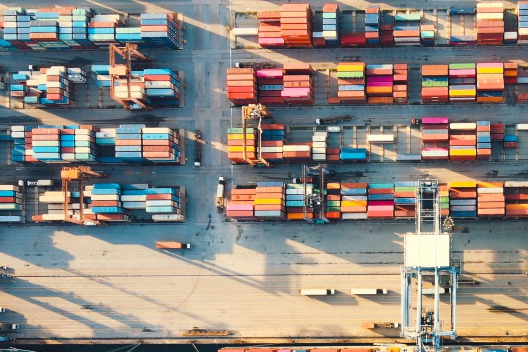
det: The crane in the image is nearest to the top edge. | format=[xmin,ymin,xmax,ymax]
[106,42,150,114]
